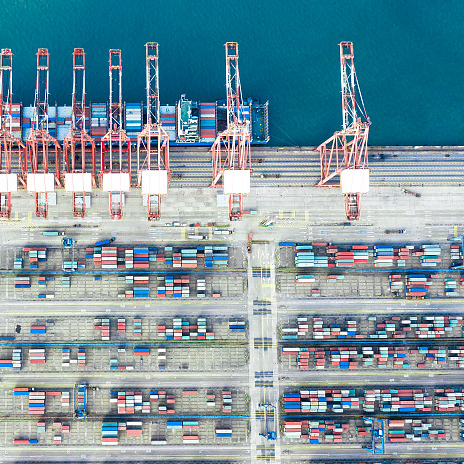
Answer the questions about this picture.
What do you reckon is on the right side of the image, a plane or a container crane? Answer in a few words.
container crane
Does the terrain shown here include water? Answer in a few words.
Yes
